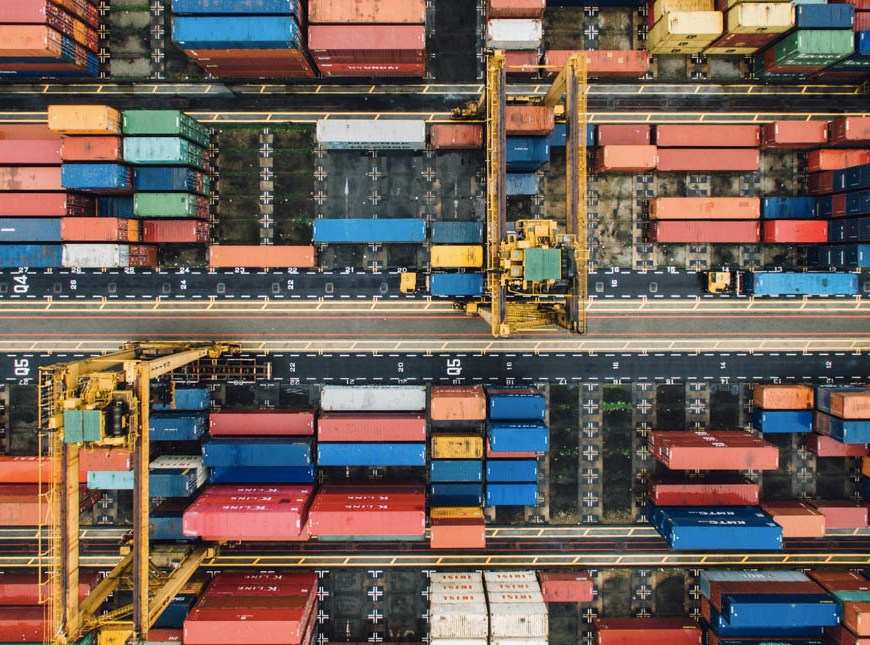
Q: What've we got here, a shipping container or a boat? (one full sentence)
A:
Visible in the photo is a shipping container.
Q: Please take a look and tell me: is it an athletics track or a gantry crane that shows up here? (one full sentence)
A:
This aerial view contains a gantry crane.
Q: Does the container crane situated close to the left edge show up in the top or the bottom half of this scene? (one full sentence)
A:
The bottom half of the photo is where the container crane situated close to the left edge is.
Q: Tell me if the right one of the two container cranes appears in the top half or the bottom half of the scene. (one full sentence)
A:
Seen from above, the right one of the two container cranes lies in the top half of the view.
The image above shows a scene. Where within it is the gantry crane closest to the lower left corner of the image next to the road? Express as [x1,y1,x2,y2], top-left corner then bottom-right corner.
[29,345,240,644]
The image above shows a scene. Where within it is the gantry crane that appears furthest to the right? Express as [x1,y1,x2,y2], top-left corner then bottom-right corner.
[449,52,591,335]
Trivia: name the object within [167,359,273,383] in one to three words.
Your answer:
trailer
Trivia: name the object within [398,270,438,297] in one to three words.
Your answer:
truck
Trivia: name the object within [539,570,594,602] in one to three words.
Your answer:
shipping container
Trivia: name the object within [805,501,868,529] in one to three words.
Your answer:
shipping container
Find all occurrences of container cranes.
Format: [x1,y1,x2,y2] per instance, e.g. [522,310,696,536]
[29,345,240,644]
[449,52,591,335]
